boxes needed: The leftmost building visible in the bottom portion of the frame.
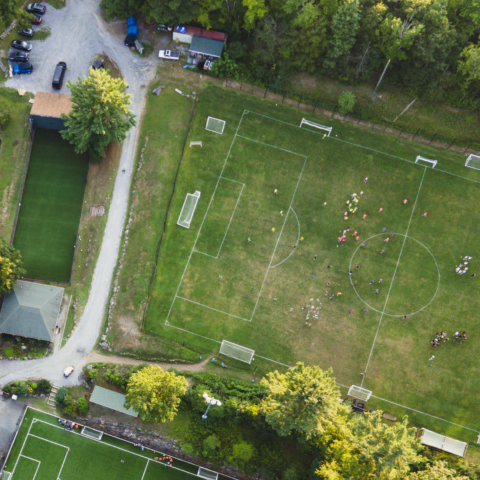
[0,280,64,343]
